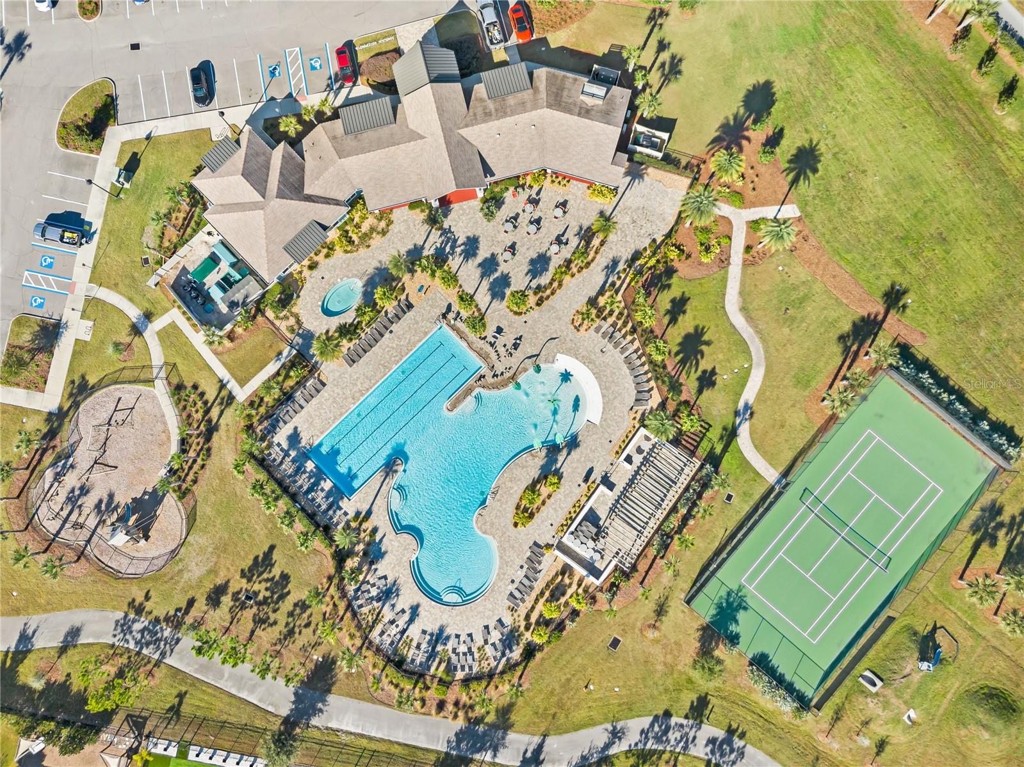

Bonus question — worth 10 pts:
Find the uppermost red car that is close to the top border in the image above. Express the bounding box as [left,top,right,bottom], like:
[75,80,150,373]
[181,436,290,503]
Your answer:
[510,2,532,42]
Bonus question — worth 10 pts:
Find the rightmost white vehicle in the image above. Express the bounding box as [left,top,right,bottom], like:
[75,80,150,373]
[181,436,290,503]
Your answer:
[478,0,505,49]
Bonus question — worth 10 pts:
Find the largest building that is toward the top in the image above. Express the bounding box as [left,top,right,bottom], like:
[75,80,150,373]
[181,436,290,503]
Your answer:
[191,42,631,285]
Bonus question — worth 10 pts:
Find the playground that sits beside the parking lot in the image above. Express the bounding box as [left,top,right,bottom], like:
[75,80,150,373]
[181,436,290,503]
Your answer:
[33,385,186,575]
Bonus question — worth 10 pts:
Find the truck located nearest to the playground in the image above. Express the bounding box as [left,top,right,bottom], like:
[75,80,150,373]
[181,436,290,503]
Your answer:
[33,222,84,246]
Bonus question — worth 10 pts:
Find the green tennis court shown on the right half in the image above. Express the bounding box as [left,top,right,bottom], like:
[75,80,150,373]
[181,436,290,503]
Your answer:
[687,373,996,705]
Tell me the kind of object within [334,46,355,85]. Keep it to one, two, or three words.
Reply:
car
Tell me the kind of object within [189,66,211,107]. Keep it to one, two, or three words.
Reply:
car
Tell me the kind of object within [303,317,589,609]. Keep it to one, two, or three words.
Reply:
swimming pool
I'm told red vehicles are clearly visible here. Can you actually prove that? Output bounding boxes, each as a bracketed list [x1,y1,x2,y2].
[334,46,355,85]
[510,2,532,42]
